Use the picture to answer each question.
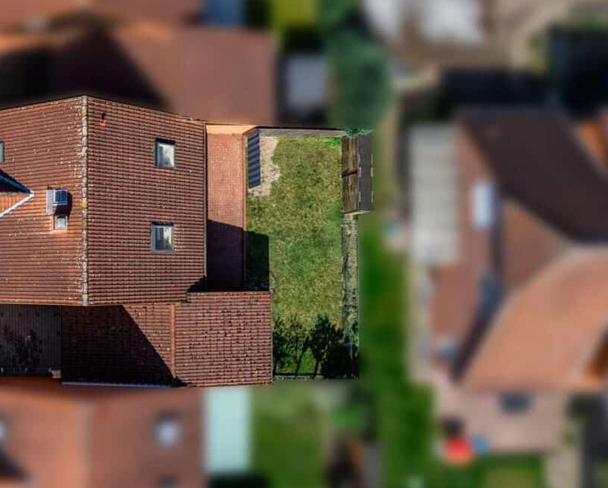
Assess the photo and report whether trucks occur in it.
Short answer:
No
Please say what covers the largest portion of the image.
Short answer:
buildings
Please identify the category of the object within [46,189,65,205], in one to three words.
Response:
solar panel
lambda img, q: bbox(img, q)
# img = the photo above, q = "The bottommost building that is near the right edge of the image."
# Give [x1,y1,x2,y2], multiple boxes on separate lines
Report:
[420,111,608,392]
